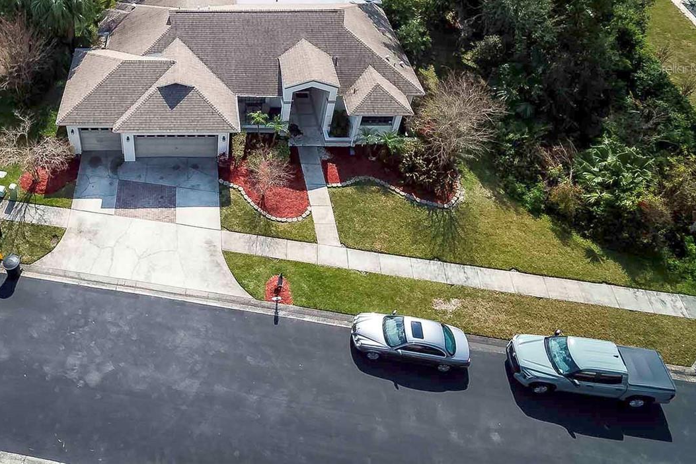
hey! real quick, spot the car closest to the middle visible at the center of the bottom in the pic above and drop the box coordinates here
[351,312,474,374]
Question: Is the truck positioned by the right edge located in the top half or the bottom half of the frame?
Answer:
bottom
